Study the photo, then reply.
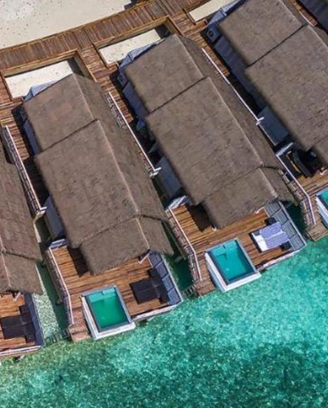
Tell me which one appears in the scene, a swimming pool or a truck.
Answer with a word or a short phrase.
swimming pool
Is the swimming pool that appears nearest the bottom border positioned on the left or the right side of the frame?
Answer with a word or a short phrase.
left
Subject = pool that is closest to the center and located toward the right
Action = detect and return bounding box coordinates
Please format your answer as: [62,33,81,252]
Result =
[201,238,261,296]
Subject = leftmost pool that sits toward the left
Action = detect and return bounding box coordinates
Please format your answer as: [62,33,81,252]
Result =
[78,287,136,343]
